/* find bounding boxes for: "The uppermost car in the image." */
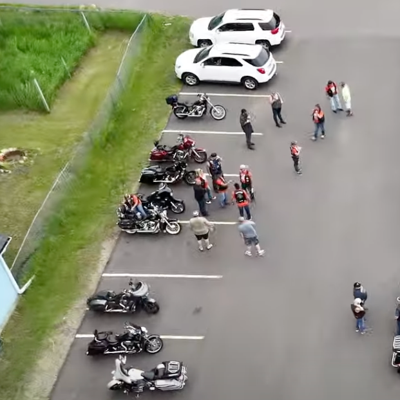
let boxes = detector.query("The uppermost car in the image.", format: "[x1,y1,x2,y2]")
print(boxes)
[186,1,292,50]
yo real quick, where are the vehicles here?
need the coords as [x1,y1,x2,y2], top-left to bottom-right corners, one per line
[81,274,162,315]
[115,202,182,235]
[123,180,187,214]
[133,151,199,185]
[170,39,277,90]
[166,89,225,121]
[186,1,292,50]
[79,314,164,356]
[98,351,185,399]
[143,121,211,164]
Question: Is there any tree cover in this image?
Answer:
No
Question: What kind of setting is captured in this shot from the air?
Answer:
parking lot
